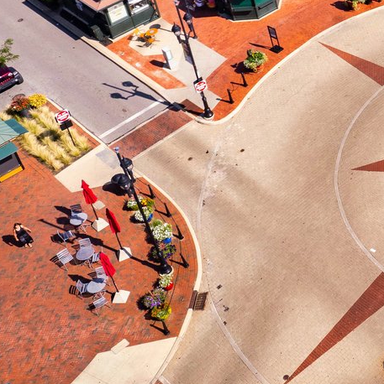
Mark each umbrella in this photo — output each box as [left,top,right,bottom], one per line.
[84,171,111,213]
[109,220,137,263]
[105,261,135,307]
[84,189,111,232]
